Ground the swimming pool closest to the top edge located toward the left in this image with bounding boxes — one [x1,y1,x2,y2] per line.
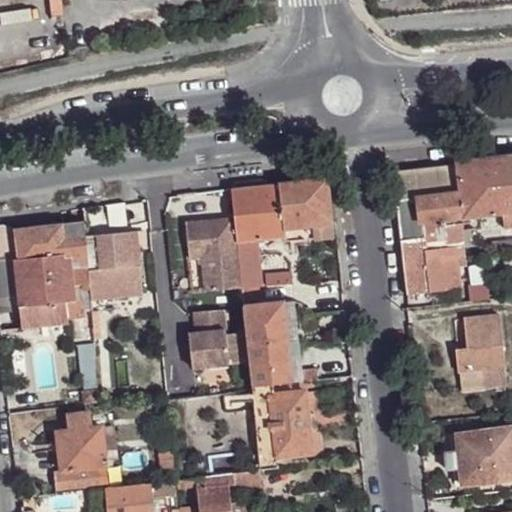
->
[32,340,58,392]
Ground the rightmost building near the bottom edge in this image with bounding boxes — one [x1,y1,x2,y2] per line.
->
[454,424,512,492]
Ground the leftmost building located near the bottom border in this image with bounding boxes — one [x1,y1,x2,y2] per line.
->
[54,410,110,491]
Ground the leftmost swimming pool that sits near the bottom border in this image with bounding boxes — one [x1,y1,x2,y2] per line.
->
[50,493,76,510]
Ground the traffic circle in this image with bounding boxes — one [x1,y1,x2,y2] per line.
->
[320,74,362,116]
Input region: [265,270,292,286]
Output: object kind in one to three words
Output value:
shed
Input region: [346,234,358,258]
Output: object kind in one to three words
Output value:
vehicle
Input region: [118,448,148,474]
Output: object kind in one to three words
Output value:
swimming pool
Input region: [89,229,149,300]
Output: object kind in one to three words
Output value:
house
